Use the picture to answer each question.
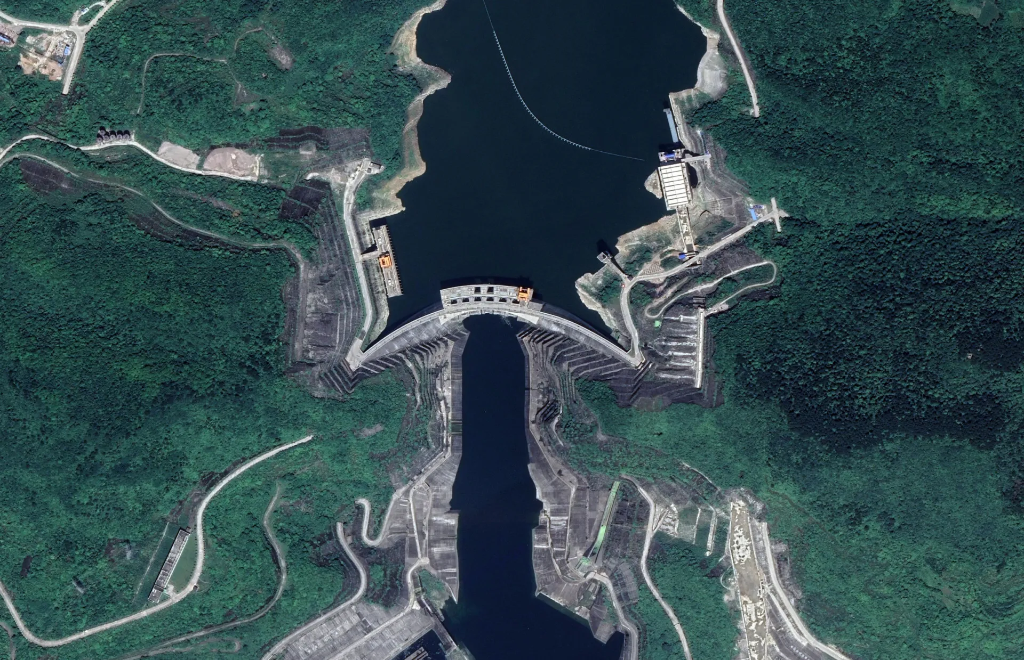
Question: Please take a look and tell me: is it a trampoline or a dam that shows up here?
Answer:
dam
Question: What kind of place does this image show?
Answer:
port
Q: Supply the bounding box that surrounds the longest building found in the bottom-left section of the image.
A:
[148,527,191,603]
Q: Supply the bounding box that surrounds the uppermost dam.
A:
[357,284,638,368]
